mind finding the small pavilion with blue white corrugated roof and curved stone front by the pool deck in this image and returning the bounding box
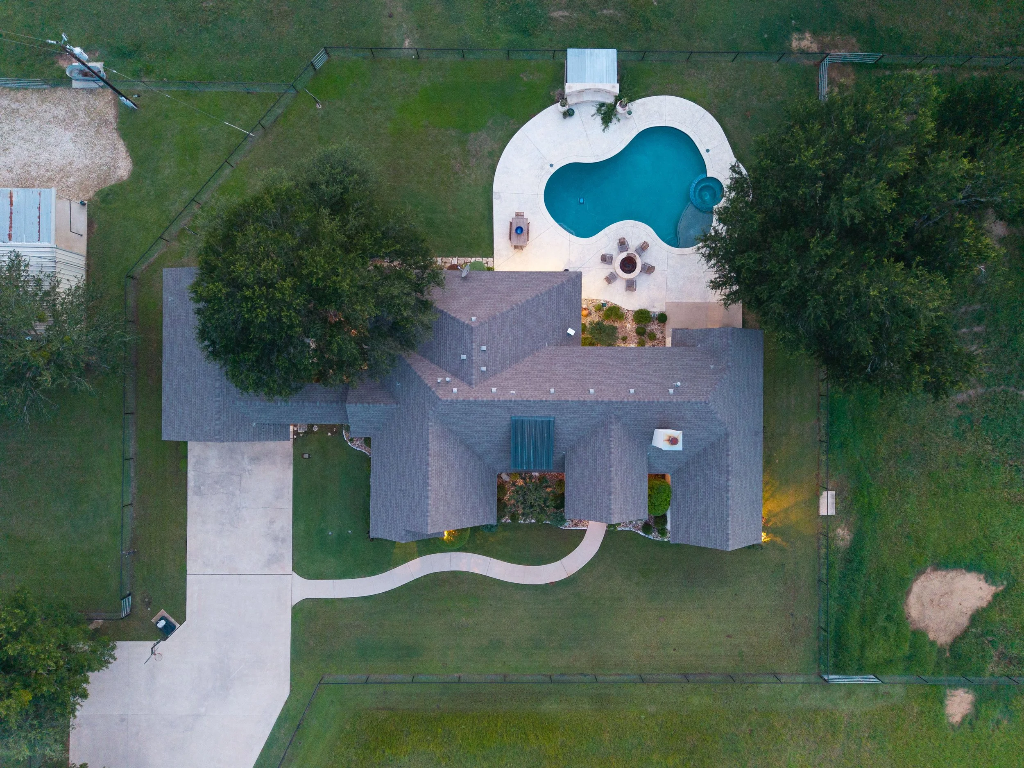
[563,49,619,107]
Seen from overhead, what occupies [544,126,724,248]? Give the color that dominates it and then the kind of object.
blue swimming pool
